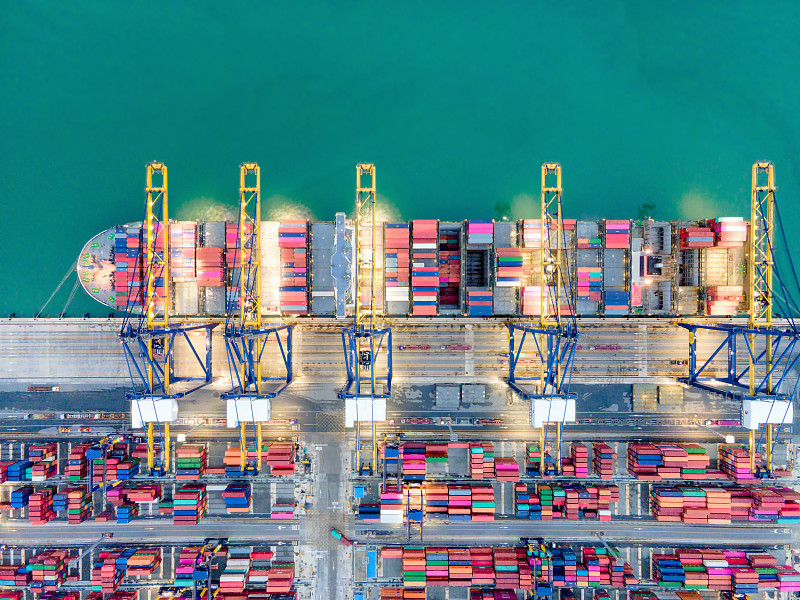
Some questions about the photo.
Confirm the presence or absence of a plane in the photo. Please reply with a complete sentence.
No, no plane is visible in the view.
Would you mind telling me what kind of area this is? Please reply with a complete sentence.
This image shows a port.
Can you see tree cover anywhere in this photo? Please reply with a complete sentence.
No, the picture contains no tree cover.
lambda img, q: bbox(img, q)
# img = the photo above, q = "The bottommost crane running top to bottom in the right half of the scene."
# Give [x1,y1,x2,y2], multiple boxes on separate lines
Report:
[520,538,550,600]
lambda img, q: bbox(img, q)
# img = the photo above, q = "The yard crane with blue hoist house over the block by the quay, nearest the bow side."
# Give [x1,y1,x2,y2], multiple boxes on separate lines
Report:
[92,433,135,493]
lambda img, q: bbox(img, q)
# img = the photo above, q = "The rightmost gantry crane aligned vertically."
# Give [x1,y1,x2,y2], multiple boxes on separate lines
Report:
[674,162,800,477]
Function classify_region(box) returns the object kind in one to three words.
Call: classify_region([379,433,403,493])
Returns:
crane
